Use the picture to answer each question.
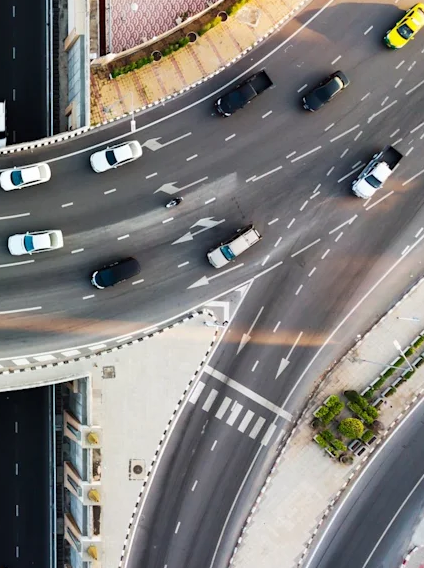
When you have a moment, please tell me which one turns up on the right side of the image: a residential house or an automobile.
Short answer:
automobile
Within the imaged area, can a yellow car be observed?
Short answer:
Yes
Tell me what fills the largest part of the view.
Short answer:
paved ground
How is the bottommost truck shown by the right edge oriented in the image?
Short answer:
on a diagonal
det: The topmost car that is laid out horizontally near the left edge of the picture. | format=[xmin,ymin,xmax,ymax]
[0,163,50,191]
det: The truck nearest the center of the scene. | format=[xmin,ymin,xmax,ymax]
[204,223,264,265]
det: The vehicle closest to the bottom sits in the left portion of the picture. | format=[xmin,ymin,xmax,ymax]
[89,256,142,288]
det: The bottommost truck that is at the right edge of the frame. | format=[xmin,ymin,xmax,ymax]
[348,144,407,195]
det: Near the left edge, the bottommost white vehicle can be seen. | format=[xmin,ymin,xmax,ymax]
[8,229,63,256]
